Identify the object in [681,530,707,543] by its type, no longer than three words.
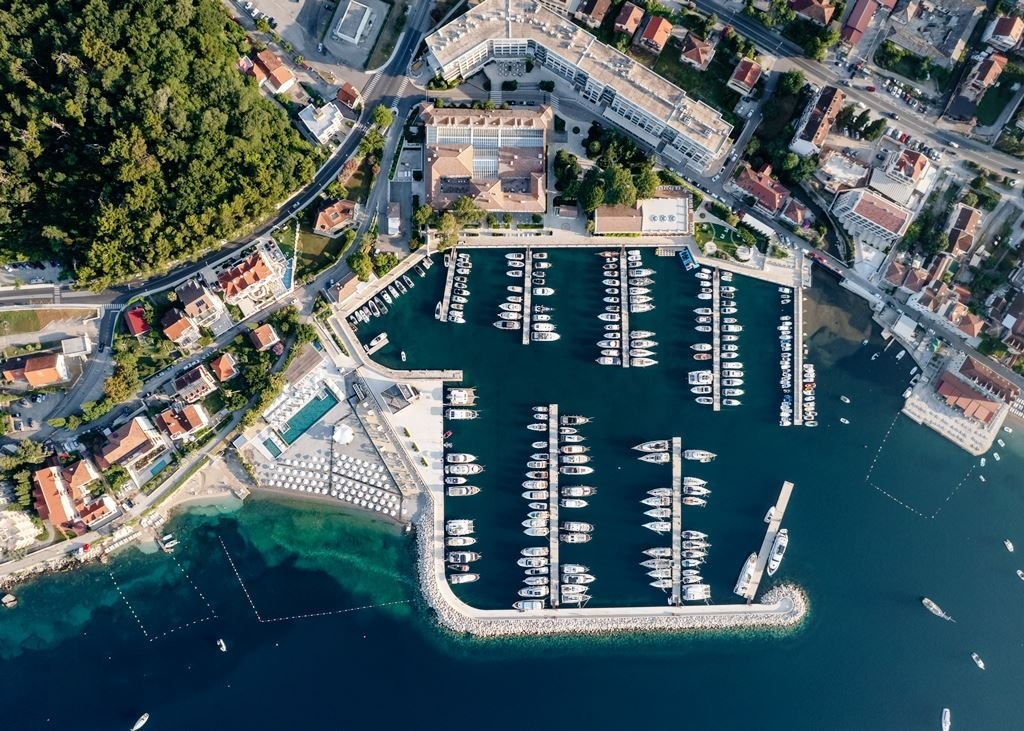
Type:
boat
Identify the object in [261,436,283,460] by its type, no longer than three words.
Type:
swimming pool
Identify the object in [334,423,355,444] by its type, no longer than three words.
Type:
tent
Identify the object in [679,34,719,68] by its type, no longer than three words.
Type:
house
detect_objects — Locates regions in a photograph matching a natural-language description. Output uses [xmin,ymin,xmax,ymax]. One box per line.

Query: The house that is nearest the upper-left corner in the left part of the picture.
[238,47,298,93]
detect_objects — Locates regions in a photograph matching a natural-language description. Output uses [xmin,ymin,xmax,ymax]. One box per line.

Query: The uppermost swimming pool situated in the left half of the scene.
[280,258,293,291]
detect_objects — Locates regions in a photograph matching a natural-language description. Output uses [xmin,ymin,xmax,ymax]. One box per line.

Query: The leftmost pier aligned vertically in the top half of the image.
[440,247,458,321]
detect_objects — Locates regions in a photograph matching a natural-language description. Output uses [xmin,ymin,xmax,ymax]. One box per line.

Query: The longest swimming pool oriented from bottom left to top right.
[277,385,340,447]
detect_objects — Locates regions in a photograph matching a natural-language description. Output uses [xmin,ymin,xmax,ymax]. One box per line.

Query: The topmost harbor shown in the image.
[320,233,812,319]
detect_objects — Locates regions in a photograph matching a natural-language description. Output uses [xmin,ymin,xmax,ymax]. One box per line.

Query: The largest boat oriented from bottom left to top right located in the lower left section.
[132,713,147,730]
